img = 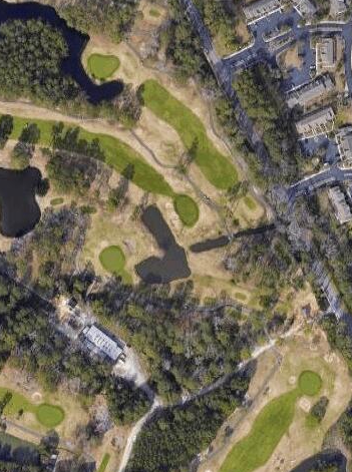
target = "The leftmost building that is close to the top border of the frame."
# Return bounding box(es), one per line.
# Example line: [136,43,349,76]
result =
[242,0,282,21]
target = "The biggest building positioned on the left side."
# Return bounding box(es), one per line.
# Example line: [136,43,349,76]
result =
[84,326,124,363]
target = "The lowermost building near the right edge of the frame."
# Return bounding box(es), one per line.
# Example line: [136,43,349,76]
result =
[328,187,352,223]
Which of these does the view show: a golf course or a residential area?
golf course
